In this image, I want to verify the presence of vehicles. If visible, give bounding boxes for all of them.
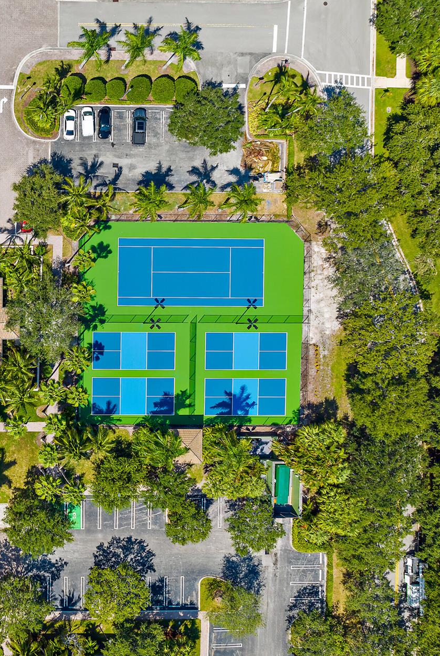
[97,109,112,138]
[399,545,425,616]
[80,107,95,137]
[131,109,146,145]
[63,110,77,139]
